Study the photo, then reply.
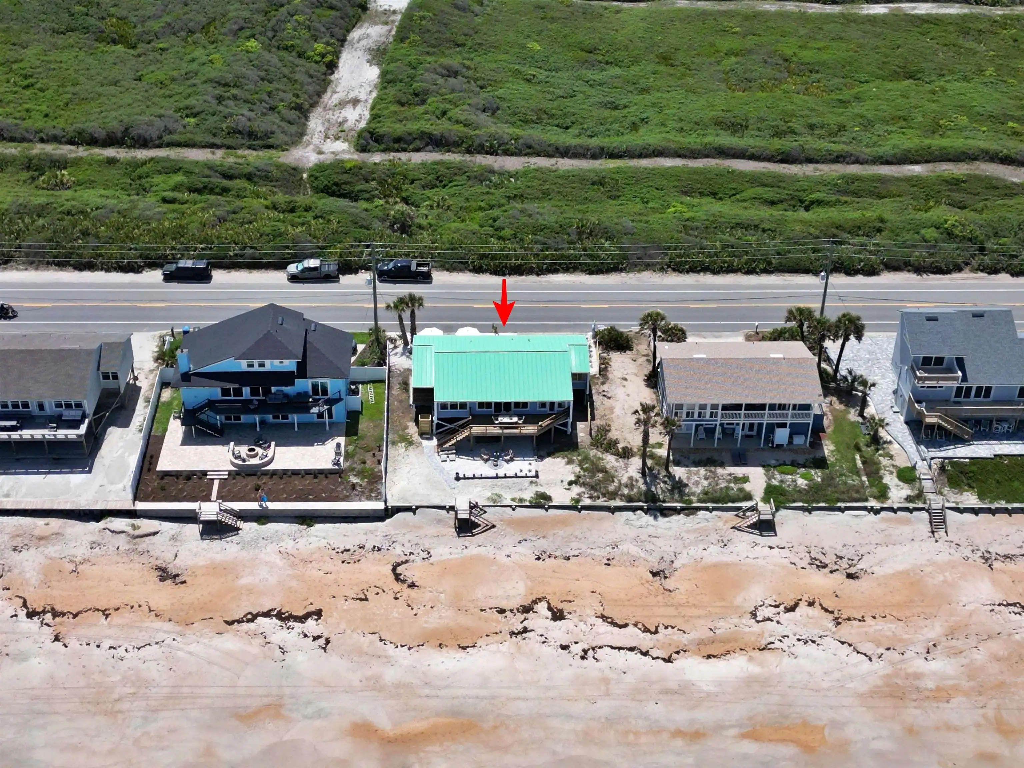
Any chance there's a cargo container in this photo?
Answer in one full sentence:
No, I can't see a single cargo container in this photo.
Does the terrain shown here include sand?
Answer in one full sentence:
Yes, sand shows up in the scene.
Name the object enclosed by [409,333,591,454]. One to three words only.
house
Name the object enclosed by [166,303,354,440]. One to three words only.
house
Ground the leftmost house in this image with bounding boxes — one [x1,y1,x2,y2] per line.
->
[0,334,138,456]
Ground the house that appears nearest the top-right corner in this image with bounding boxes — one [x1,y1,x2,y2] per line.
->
[891,311,1024,441]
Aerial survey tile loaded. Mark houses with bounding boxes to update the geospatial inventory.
[891,311,1024,441]
[166,303,354,440]
[409,333,591,454]
[649,342,829,447]
[0,334,138,456]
